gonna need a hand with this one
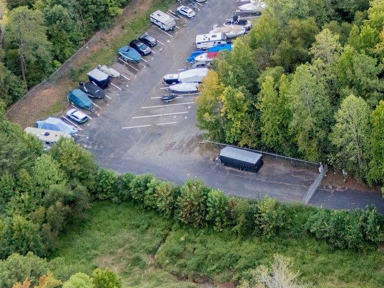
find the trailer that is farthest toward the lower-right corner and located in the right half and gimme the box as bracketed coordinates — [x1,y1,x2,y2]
[215,141,265,171]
